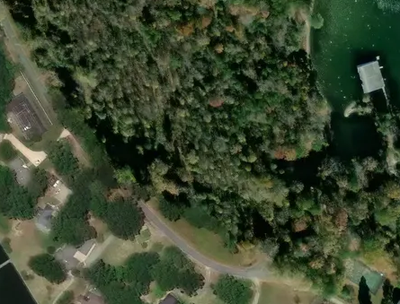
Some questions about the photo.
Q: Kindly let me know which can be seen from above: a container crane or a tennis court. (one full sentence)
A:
The one in the frame is a tennis court.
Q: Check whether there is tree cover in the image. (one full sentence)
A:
Yes, tree cover shows up in the scene.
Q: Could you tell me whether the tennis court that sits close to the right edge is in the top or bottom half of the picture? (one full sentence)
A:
The bottom half of the photo is where the tennis court that sits close to the right edge is.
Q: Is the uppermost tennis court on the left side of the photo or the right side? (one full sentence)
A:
The uppermost tennis court sits on the left side.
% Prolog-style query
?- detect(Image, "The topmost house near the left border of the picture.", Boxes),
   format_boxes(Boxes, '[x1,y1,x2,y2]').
[5,156,35,185]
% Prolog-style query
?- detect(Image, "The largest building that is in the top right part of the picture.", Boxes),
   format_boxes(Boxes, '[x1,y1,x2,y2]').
[356,58,384,92]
